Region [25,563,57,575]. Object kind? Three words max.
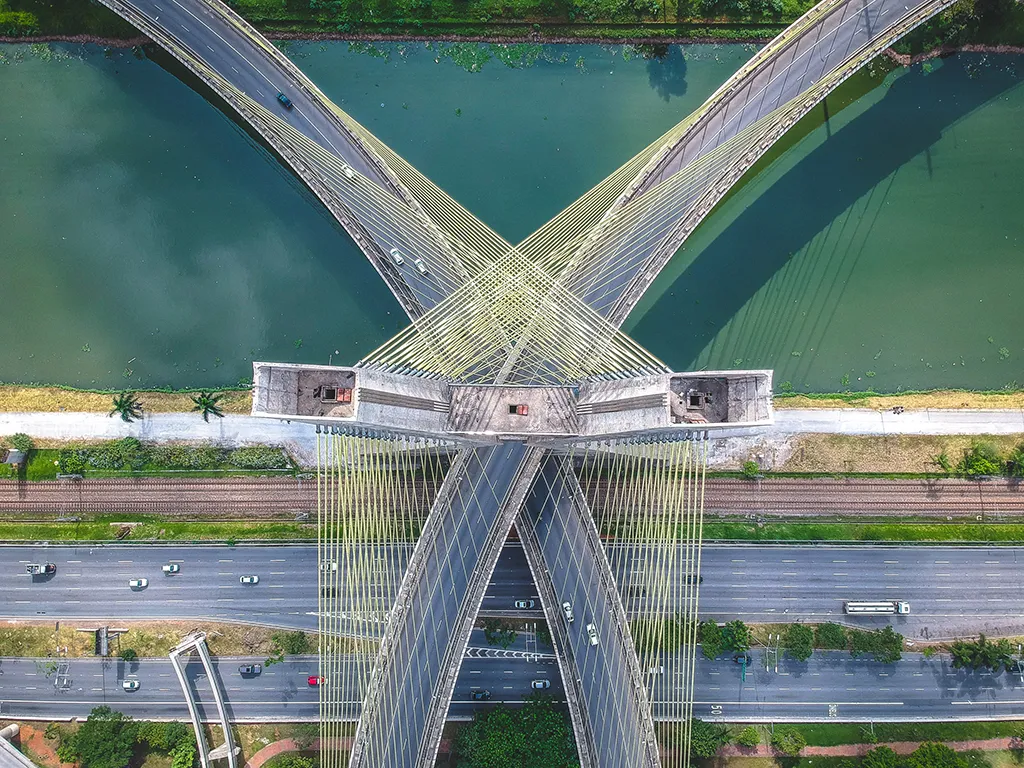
vehicle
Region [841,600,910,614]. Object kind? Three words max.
vehicle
